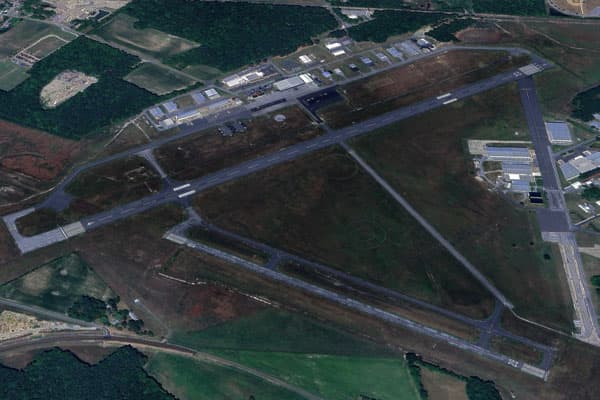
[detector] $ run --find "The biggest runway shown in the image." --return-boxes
[19,60,553,252]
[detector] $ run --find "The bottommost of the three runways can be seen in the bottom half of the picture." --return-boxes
[163,233,548,380]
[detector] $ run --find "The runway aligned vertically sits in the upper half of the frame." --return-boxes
[517,74,564,207]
